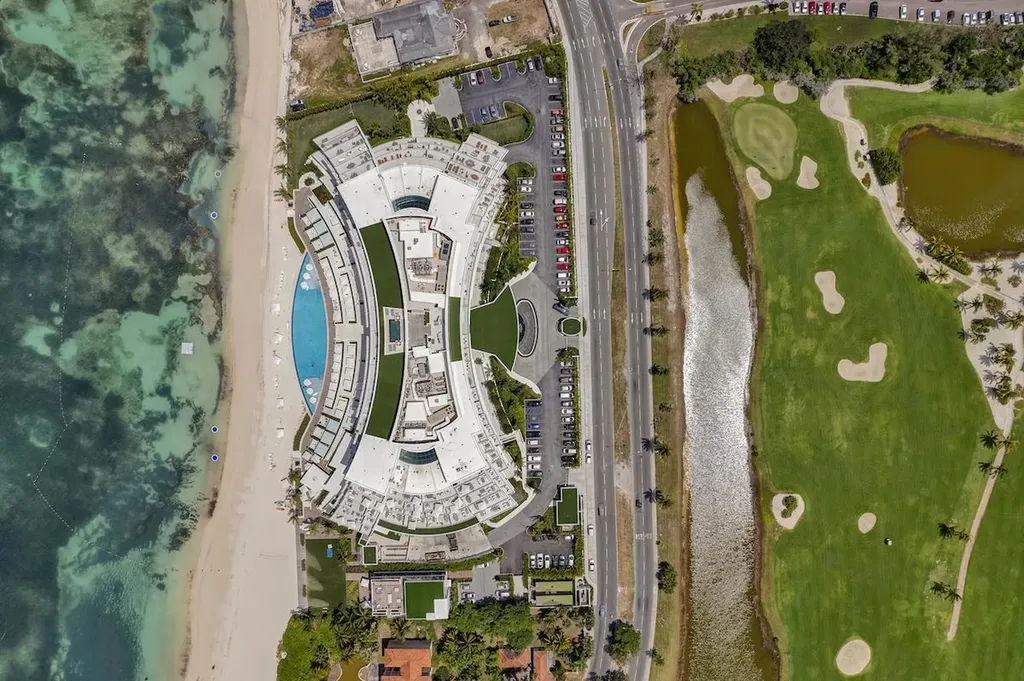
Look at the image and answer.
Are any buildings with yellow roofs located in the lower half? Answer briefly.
Yes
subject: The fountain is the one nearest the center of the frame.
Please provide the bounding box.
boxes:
[517,297,539,358]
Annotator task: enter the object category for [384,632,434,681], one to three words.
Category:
house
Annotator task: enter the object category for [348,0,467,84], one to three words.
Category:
house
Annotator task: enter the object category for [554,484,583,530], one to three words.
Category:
building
